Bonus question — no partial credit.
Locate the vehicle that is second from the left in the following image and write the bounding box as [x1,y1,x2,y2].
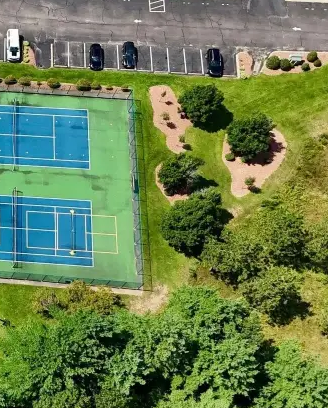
[89,44,103,72]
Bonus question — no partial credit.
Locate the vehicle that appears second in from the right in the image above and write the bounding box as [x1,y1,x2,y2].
[121,41,137,69]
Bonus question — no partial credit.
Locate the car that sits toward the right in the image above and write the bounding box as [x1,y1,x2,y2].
[206,48,223,77]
